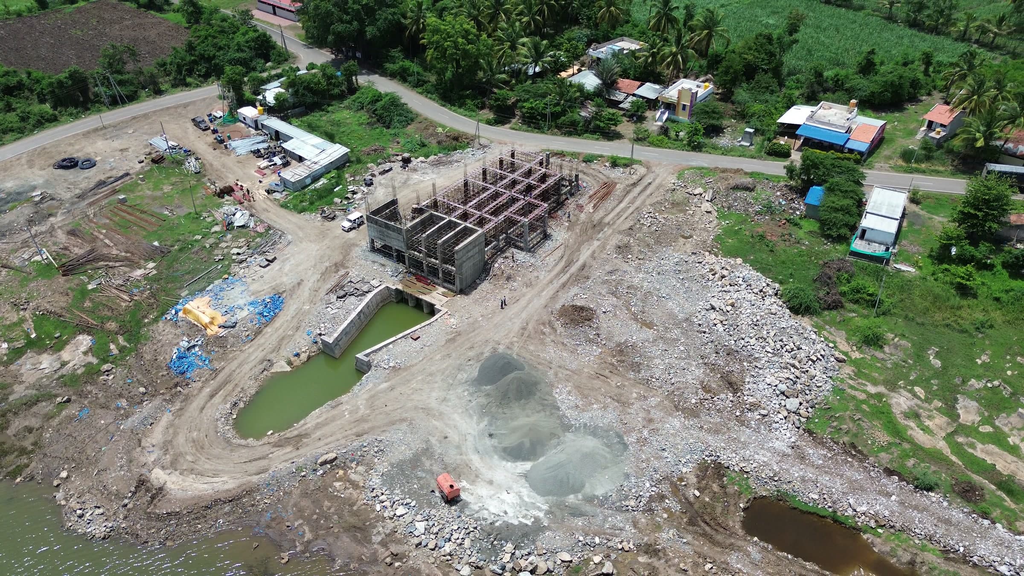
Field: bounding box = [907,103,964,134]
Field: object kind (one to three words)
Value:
house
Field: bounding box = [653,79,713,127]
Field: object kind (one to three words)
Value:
house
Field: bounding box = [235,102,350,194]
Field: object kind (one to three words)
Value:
shed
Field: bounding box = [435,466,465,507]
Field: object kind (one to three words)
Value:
trailer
